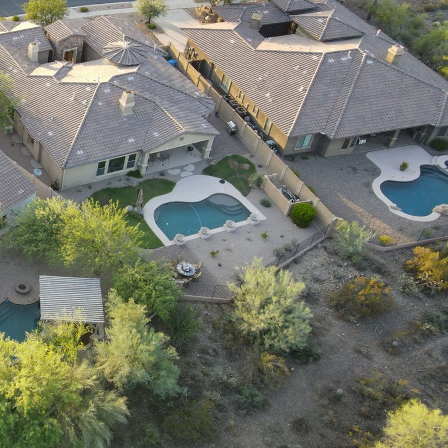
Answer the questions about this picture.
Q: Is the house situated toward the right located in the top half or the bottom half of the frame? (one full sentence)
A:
The house situated toward the right sits in the top half of the picture.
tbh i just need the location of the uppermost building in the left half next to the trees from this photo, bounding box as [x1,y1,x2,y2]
[0,13,222,185]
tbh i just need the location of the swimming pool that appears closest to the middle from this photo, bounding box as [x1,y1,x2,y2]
[144,174,265,247]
